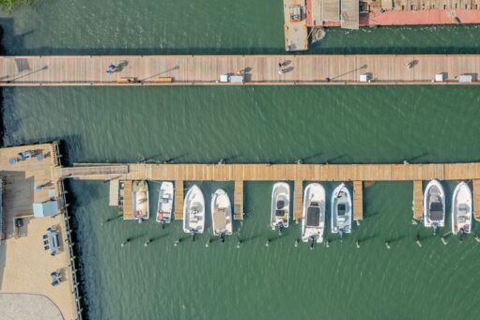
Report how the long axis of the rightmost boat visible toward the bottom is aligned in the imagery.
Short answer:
from top to bottom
